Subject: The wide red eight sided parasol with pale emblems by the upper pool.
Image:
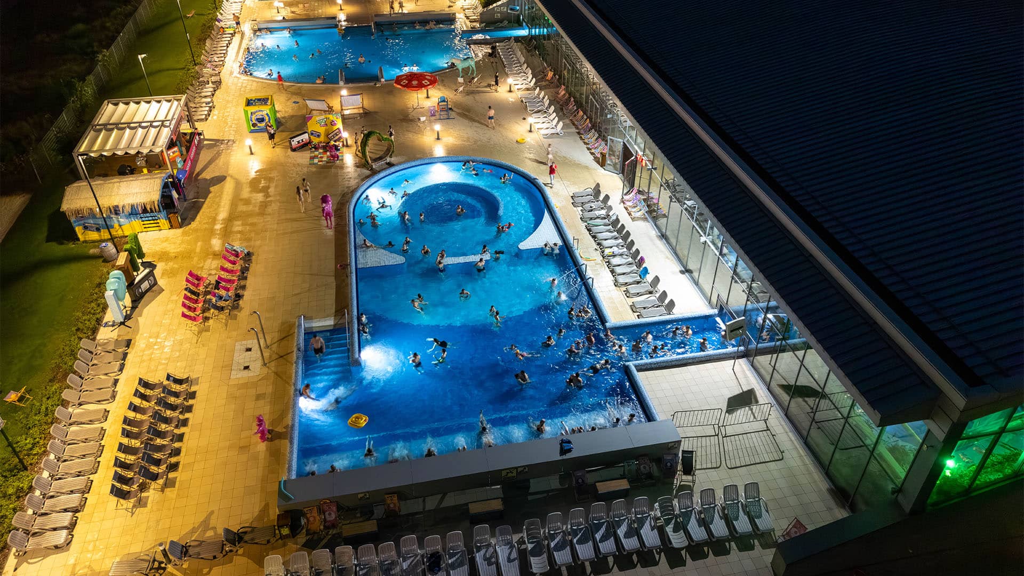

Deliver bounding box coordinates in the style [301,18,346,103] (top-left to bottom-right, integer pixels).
[388,70,439,111]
